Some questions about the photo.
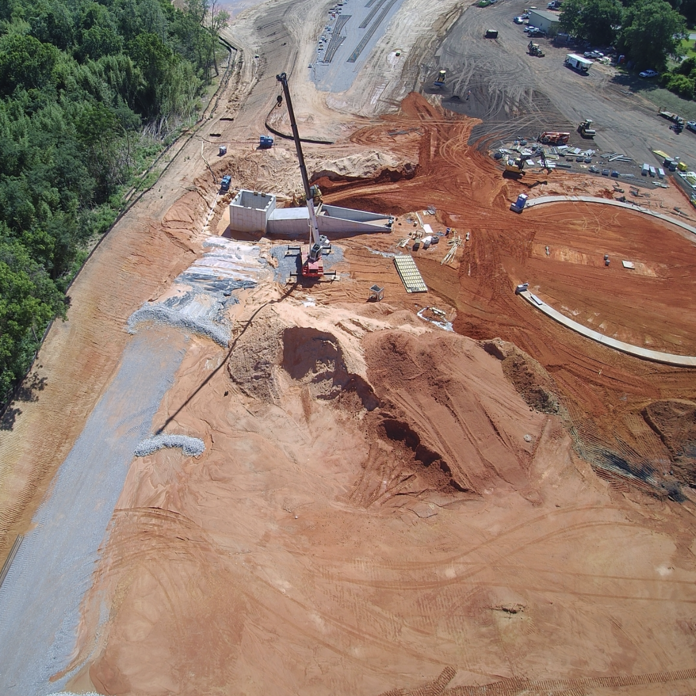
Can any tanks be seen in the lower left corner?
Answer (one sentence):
No, looking in the lower left corner, there is no tank.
